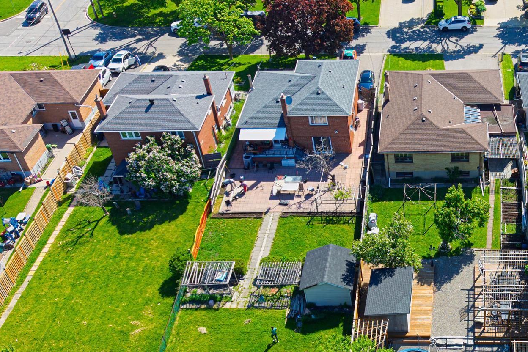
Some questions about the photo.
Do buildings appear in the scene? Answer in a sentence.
Yes, the picture does show a building.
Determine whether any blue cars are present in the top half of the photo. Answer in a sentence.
Yes, a blue car shows up in the top half of the photo.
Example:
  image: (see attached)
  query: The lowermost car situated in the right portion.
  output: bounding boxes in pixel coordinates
[359,70,377,92]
